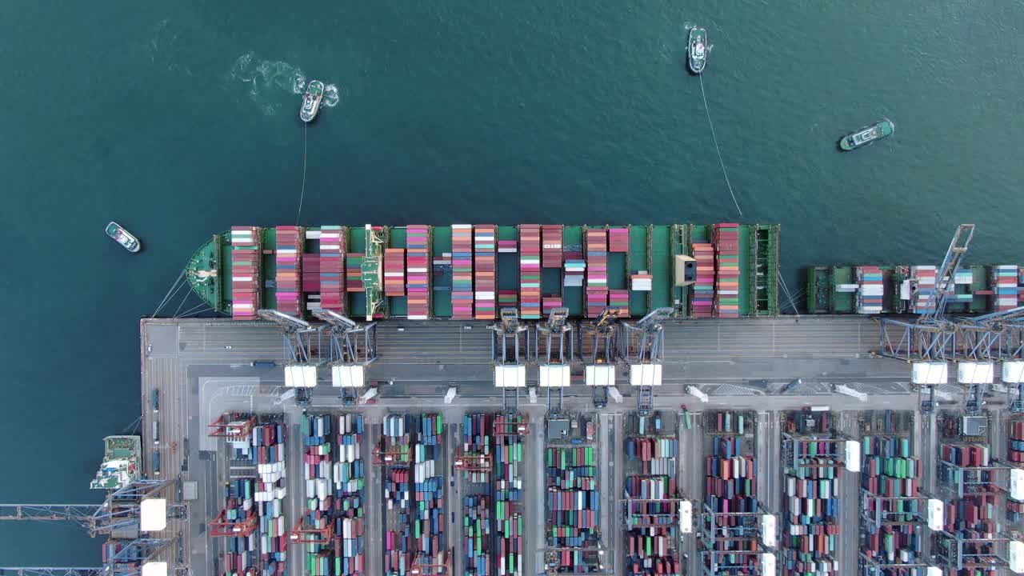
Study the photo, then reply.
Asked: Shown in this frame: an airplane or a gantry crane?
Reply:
gantry crane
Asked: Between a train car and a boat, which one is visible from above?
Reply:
boat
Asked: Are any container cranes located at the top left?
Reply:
No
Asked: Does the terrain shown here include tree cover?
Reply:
No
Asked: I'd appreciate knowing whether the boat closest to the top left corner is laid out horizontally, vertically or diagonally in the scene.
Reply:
diagonally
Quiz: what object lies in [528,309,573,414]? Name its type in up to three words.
container crane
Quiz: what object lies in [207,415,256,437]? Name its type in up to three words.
container crane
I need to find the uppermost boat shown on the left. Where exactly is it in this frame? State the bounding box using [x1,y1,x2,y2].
[300,79,326,123]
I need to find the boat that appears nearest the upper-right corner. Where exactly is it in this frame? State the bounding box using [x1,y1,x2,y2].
[839,116,895,151]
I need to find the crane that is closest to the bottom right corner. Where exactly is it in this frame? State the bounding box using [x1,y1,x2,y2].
[933,531,1024,575]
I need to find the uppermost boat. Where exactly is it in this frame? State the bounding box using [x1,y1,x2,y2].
[688,27,707,73]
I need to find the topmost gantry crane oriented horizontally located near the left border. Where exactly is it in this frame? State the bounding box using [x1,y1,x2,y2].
[0,469,197,535]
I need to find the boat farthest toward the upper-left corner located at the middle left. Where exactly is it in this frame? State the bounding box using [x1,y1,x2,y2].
[103,219,142,254]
